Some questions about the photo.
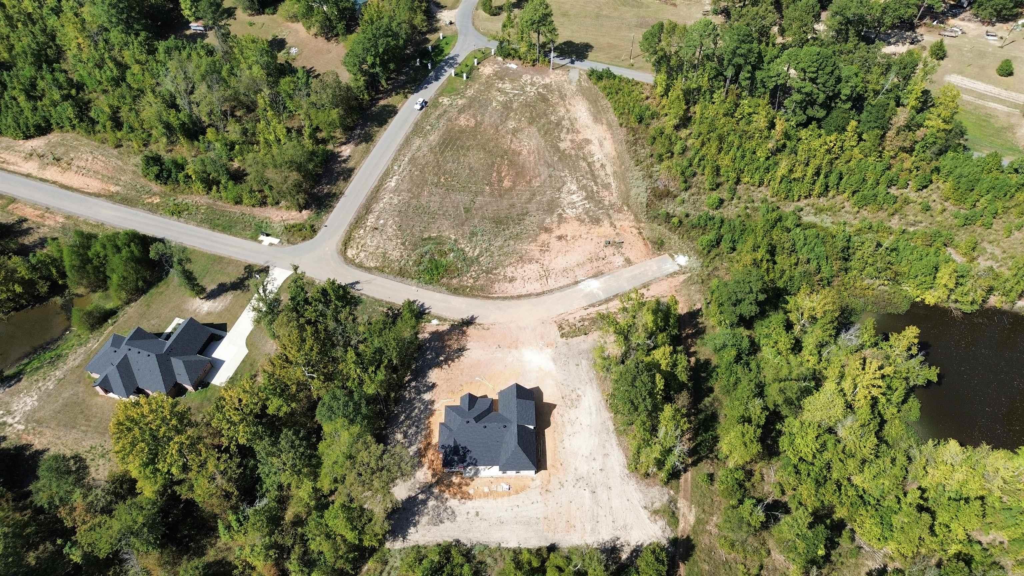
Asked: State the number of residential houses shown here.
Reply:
2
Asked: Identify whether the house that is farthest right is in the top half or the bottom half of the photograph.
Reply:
bottom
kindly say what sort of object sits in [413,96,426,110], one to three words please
vehicle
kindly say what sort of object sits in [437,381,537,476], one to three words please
house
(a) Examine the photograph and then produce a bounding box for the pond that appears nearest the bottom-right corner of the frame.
[862,304,1024,448]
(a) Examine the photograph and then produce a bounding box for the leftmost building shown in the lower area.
[84,315,215,408]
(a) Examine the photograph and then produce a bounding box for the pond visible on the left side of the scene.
[0,298,80,373]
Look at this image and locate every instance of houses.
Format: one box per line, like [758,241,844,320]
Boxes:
[437,381,537,476]
[84,315,215,408]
